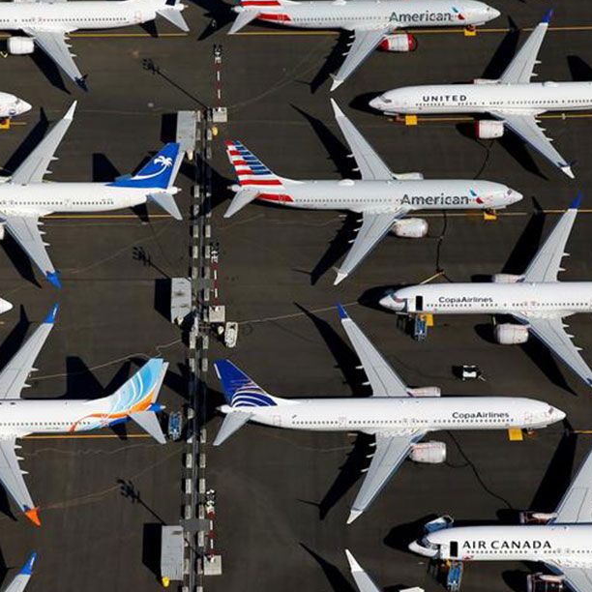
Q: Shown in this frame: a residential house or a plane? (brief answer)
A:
plane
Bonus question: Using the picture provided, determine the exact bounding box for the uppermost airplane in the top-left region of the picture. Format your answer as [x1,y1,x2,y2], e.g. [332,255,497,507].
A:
[0,0,188,90]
